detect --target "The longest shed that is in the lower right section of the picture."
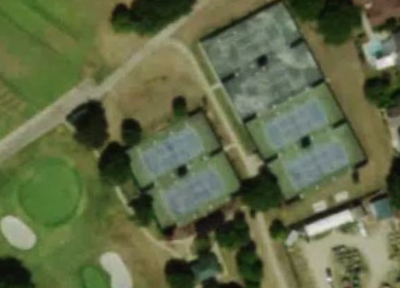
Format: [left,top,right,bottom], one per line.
[305,209,353,236]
